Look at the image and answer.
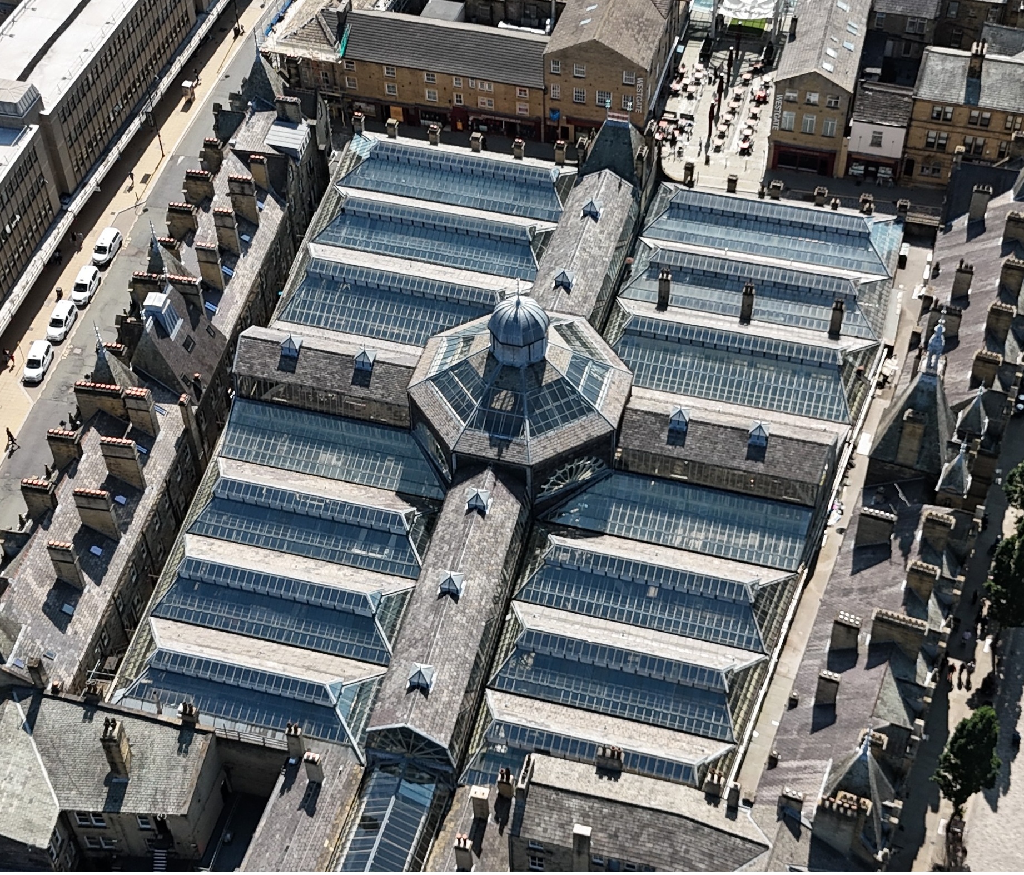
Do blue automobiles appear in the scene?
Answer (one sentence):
No, I find no blue automobile anywhere in the image.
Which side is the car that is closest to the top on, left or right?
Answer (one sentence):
The car that is closest to the top appears in the left half of the scene.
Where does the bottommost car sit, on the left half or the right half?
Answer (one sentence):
It is on the left.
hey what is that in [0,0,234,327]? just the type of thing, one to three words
building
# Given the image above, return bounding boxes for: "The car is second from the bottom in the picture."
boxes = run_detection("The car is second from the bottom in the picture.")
[46,300,78,340]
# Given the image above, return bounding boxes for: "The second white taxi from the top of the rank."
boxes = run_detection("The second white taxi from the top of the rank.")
[71,265,102,304]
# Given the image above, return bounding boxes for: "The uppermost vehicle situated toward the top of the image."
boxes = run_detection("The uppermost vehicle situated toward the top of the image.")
[92,226,123,264]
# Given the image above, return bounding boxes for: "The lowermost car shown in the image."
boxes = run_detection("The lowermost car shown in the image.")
[24,340,57,382]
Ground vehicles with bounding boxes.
[24,340,57,382]
[92,226,123,264]
[46,300,78,340]
[71,265,102,304]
